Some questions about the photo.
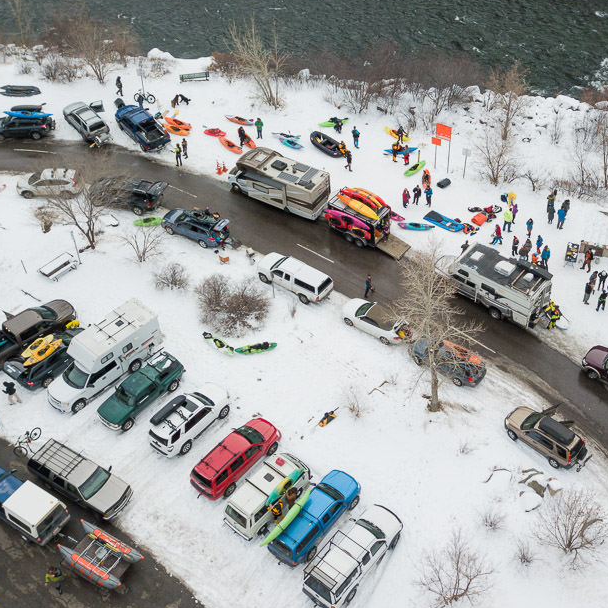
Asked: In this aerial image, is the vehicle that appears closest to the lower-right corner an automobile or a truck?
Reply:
automobile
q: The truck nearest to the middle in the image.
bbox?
[254,252,336,308]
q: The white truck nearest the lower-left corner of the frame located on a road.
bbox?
[0,465,73,553]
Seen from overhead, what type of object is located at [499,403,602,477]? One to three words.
car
